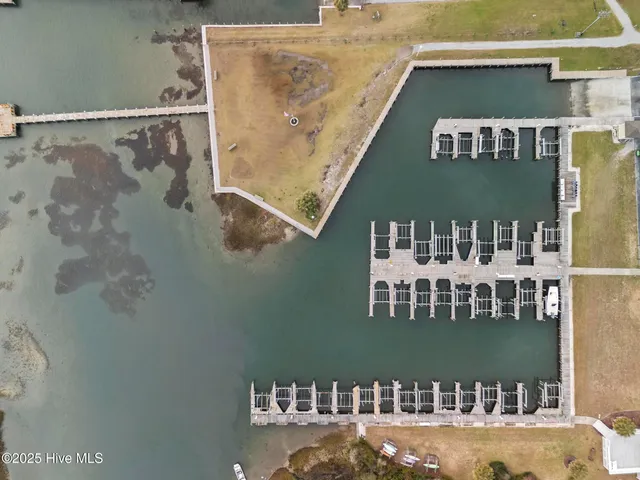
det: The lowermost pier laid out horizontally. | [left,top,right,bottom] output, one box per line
[250,378,559,426]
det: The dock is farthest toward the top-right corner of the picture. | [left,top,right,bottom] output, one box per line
[428,116,634,161]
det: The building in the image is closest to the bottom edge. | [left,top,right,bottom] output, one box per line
[592,419,640,473]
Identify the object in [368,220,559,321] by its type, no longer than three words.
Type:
pier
